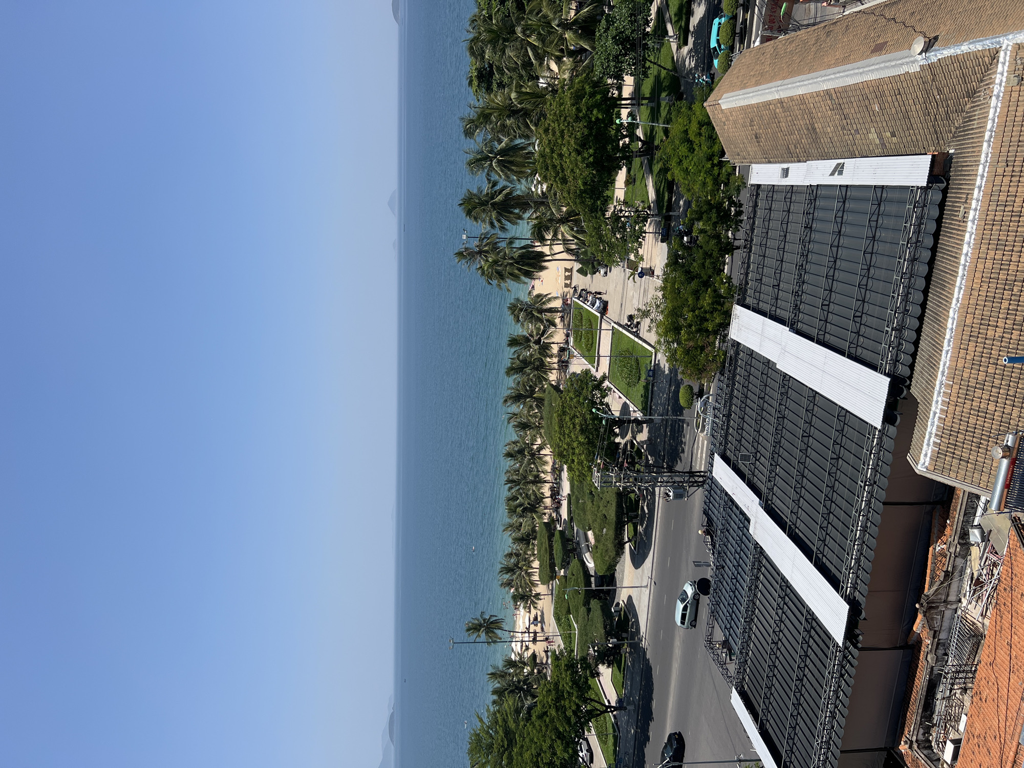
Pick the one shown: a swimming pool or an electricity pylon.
electricity pylon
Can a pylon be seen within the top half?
No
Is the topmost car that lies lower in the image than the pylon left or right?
right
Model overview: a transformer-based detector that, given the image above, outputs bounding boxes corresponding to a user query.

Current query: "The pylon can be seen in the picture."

[592,465,721,494]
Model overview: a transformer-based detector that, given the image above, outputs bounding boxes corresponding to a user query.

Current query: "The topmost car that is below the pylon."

[670,575,698,629]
